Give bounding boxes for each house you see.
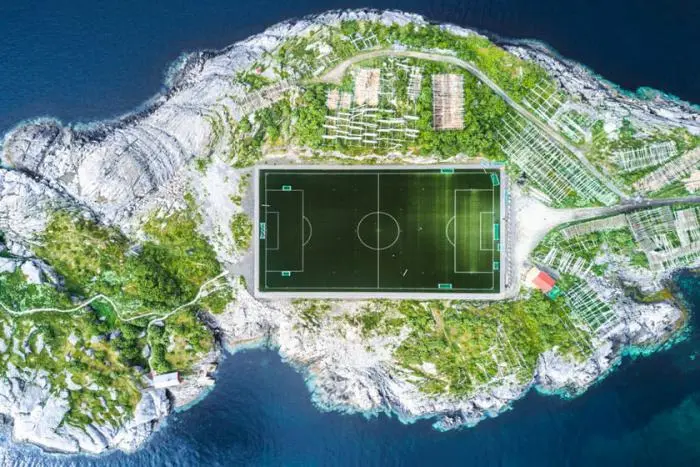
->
[523,267,554,293]
[149,371,183,388]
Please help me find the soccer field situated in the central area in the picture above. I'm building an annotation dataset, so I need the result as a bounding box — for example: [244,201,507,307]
[259,169,500,293]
